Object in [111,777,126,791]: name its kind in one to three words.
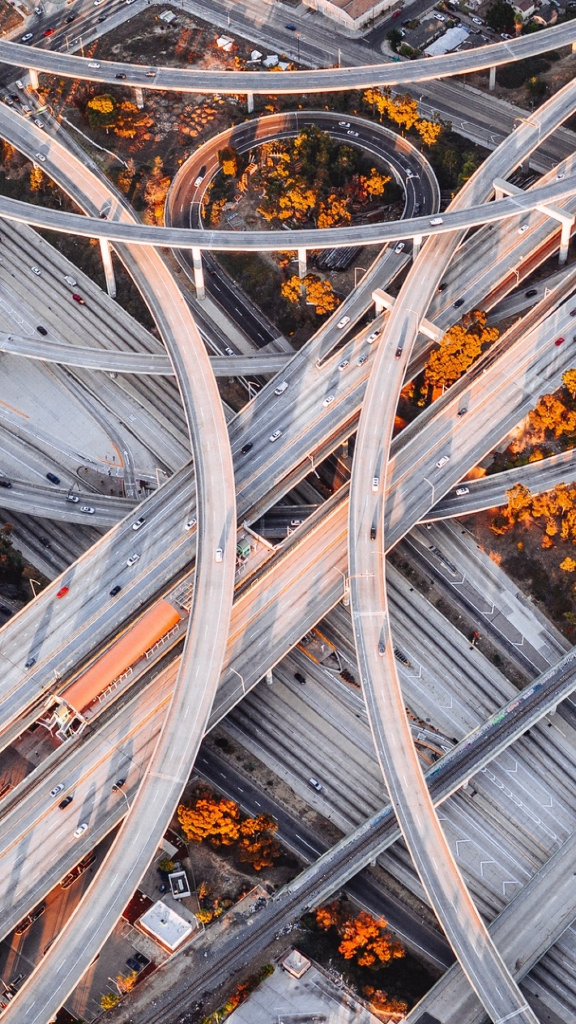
car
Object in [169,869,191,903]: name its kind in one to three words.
shed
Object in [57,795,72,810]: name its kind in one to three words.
car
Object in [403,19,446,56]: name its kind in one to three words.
house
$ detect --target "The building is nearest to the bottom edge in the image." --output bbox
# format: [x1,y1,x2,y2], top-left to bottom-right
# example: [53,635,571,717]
[224,951,371,1024]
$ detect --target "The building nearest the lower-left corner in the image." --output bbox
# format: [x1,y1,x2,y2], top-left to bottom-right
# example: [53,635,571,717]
[140,900,192,955]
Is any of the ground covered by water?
No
